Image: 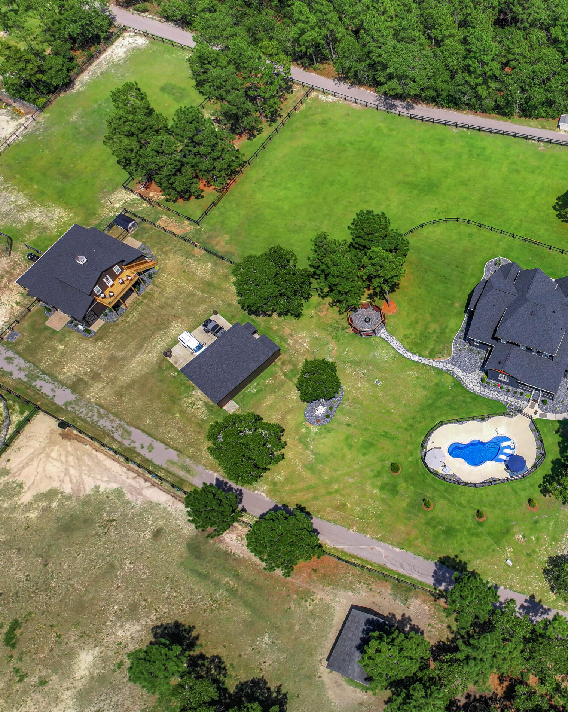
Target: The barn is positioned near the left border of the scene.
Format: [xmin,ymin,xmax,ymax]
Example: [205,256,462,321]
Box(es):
[14,224,157,326]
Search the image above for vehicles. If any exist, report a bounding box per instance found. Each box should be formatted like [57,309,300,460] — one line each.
[26,250,38,261]
[178,331,205,355]
[203,320,226,340]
